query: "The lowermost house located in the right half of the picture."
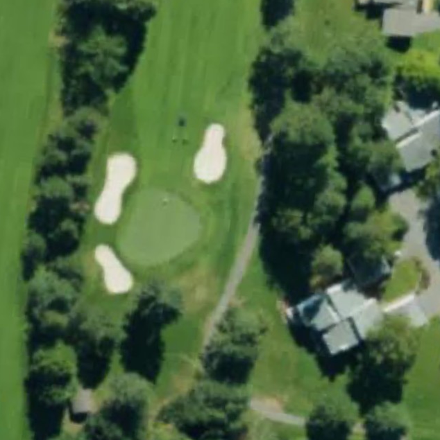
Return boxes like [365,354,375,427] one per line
[296,285,385,355]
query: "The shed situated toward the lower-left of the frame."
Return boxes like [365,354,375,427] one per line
[75,391,94,414]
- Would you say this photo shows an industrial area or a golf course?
golf course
